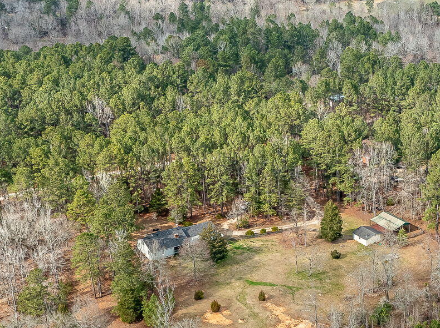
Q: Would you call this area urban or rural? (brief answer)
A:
rural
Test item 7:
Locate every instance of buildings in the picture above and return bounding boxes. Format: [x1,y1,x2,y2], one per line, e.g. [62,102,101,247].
[369,209,412,239]
[137,222,217,260]
[353,225,383,246]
